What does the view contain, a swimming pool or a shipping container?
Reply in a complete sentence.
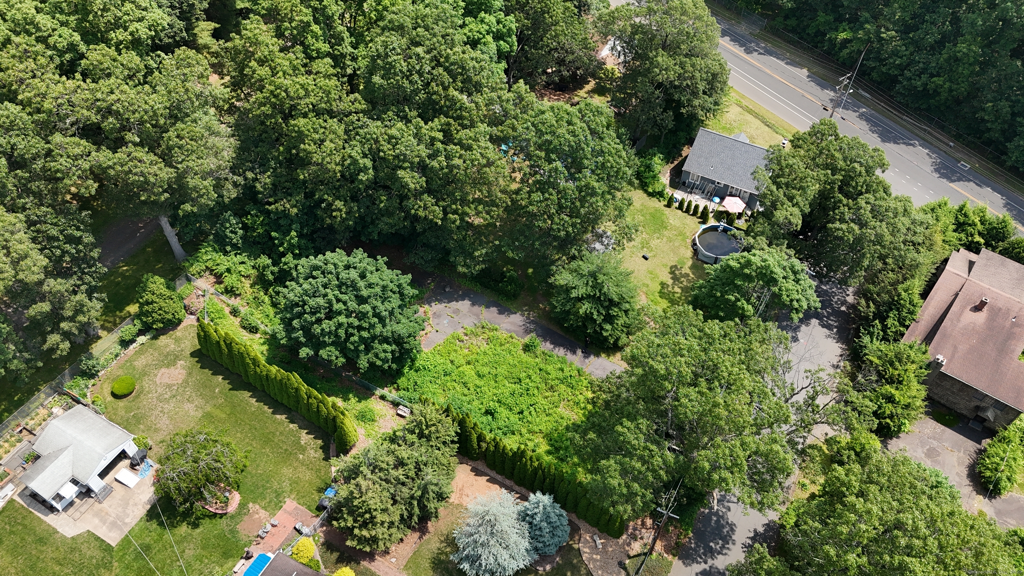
There is a swimming pool in the scene.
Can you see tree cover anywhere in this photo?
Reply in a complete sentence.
Yes, there is tree cover in the image.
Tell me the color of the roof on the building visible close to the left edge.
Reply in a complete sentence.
From above, the roof of the building visible close to the left edge looks white.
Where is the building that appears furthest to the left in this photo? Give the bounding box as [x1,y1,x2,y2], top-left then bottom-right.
[18,405,139,524]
